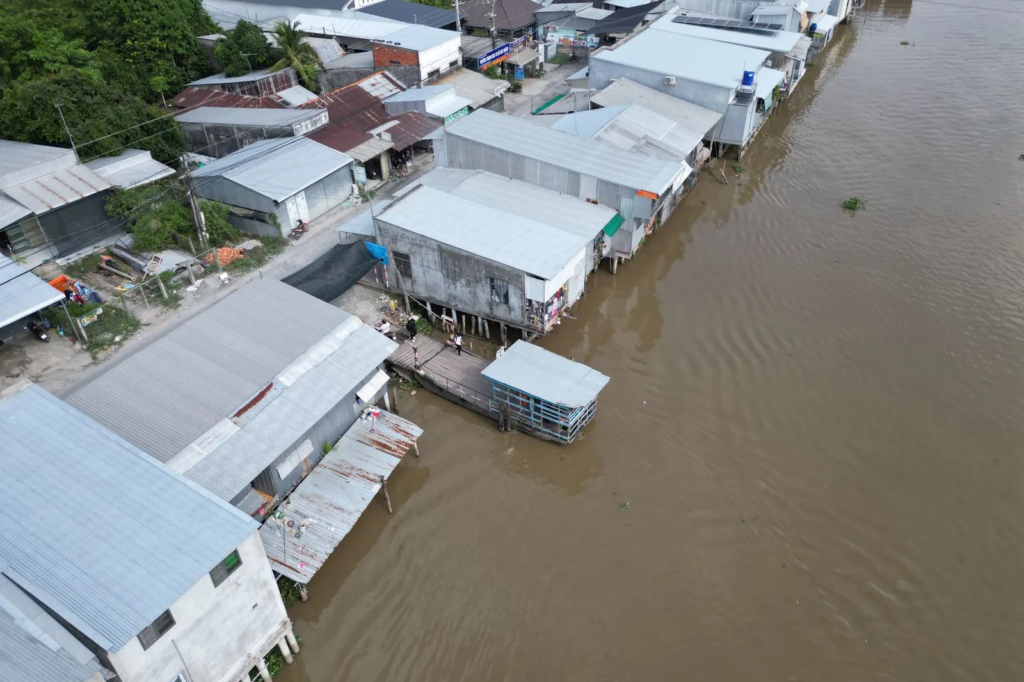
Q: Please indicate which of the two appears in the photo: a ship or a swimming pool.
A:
ship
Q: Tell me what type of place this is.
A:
residential area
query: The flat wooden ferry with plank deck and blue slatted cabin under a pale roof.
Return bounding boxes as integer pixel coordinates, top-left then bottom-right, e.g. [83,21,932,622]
[420,340,609,448]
